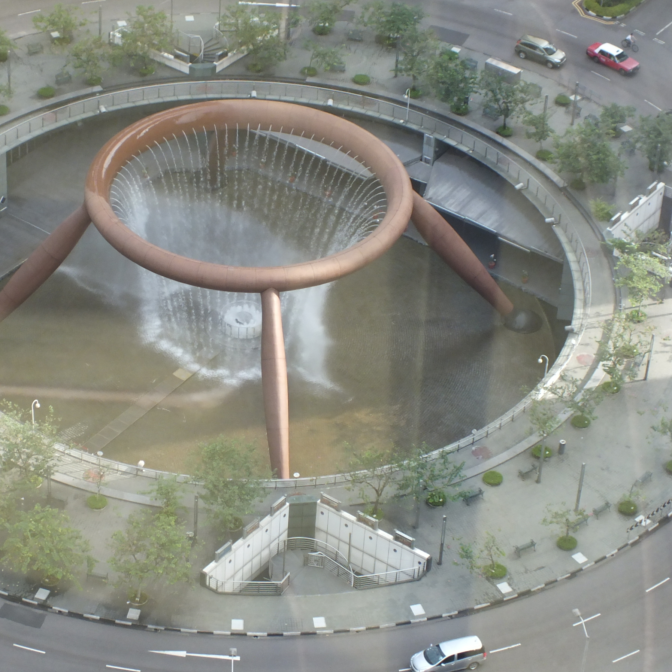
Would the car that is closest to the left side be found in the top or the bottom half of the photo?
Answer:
bottom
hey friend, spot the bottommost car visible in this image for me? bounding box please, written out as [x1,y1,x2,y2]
[408,633,489,672]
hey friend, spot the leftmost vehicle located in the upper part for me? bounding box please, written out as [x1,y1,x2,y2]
[514,32,571,69]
